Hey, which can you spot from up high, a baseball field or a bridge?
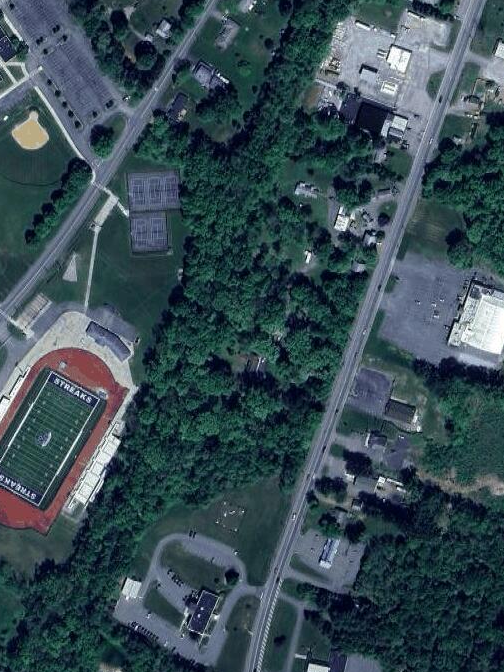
baseball field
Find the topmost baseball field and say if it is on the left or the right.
left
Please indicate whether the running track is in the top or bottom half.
bottom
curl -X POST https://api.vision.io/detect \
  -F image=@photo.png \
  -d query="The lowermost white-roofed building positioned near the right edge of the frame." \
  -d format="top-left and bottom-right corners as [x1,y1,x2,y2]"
[448,283,504,361]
